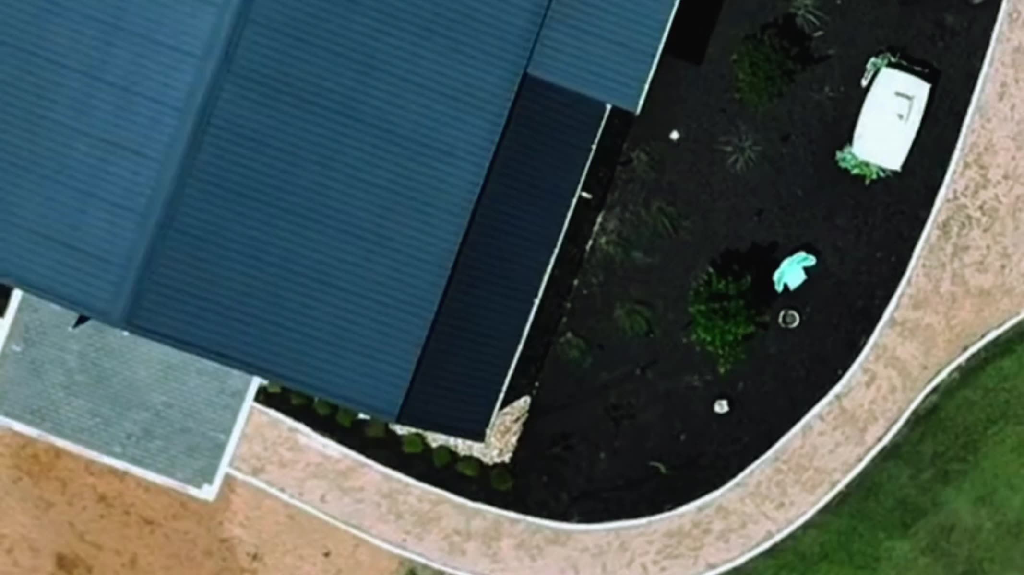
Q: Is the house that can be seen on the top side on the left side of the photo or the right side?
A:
left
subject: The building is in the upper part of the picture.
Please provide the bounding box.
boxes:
[0,0,681,440]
